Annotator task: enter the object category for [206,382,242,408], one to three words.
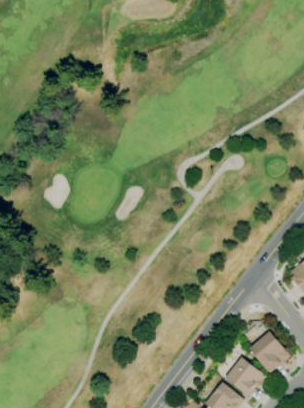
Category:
house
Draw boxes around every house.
[292,262,304,286]
[206,382,242,408]
[226,358,264,396]
[250,332,290,372]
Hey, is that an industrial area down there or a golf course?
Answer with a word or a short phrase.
golf course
